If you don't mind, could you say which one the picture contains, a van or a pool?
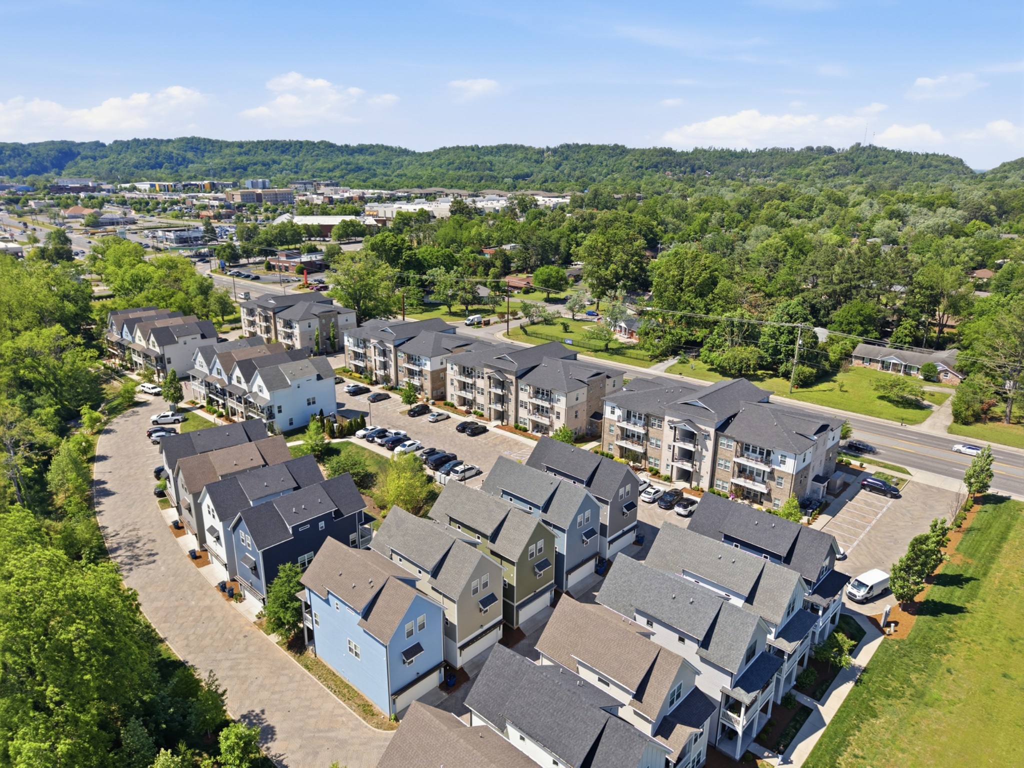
van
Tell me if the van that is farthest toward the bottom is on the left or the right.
right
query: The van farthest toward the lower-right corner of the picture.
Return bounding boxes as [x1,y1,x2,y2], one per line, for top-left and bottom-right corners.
[851,563,892,603]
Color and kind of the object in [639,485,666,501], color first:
white car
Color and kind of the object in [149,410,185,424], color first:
white vehicle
